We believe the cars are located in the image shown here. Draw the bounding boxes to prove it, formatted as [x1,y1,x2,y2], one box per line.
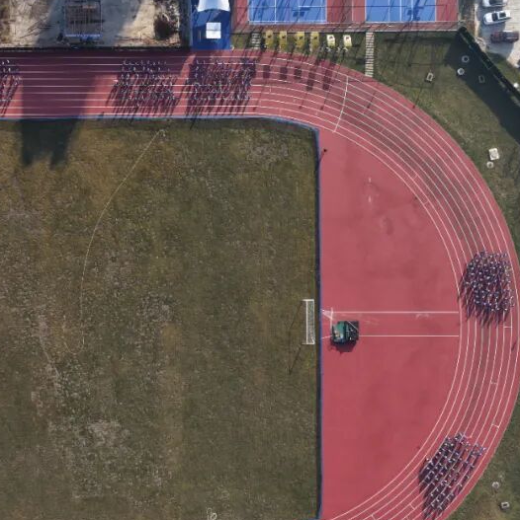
[481,0,509,7]
[490,28,519,43]
[484,9,511,24]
